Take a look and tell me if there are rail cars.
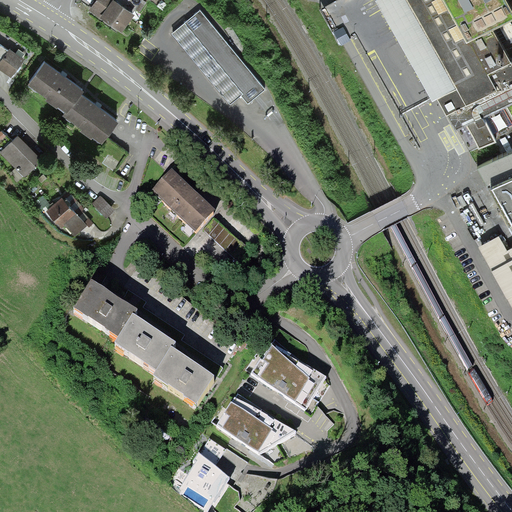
Yes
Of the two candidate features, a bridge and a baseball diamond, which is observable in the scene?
bridge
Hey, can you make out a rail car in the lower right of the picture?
Yes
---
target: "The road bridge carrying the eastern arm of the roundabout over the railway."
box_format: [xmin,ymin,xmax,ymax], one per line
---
[347,192,425,250]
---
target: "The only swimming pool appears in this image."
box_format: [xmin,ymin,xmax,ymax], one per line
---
[184,486,209,508]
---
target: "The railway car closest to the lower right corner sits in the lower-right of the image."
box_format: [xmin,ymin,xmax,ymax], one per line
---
[468,369,490,403]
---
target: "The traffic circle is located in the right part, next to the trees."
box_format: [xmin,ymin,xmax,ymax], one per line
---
[282,213,354,284]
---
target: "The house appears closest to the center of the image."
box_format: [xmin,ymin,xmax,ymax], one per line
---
[152,168,214,233]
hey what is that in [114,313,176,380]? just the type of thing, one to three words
building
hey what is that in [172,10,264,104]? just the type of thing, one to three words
shed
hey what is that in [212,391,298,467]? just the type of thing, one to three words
house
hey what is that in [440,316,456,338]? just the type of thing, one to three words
rail car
